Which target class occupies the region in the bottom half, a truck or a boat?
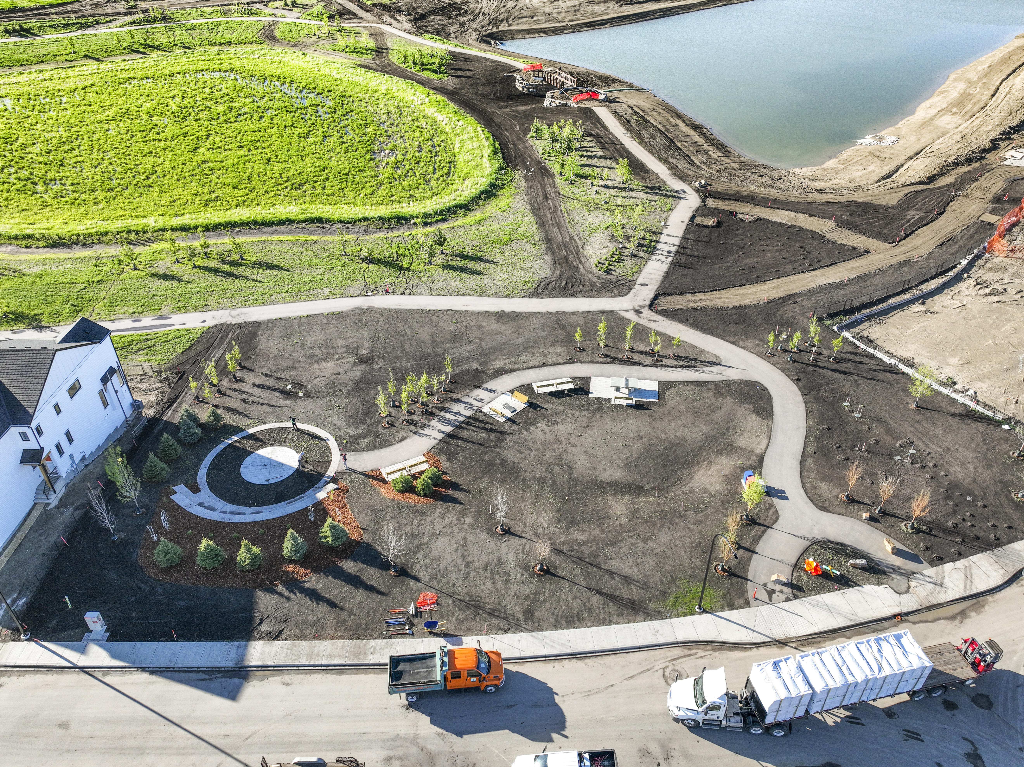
truck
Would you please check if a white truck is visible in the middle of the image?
No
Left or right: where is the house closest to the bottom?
left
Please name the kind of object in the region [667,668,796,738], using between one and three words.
truck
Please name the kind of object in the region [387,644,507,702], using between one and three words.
truck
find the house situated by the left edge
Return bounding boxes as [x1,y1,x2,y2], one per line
[0,319,134,528]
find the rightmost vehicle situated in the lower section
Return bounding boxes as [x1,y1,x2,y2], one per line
[954,635,1010,685]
